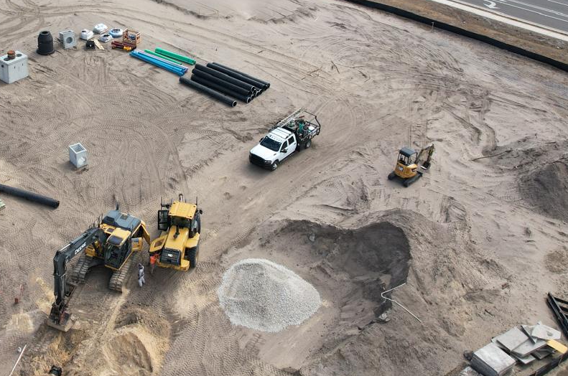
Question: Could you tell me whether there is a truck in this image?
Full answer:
Yes, there's a truck down there.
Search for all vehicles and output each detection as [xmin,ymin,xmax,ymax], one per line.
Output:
[45,211,150,319]
[149,198,211,276]
[387,140,429,185]
[246,109,320,168]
